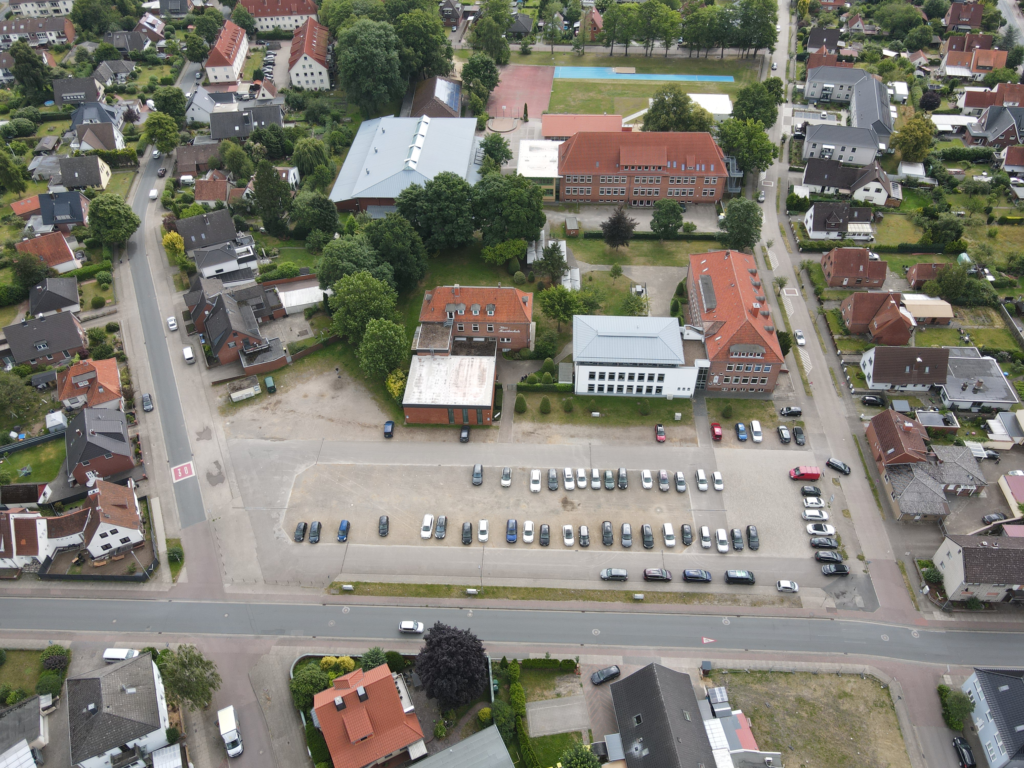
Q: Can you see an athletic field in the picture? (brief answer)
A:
Yes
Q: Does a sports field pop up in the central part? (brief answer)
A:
No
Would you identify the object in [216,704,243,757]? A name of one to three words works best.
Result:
truck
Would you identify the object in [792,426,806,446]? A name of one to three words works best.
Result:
car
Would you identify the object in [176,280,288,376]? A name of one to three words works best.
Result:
house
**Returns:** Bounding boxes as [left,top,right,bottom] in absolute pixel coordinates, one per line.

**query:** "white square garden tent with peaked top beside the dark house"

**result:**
[44,410,68,429]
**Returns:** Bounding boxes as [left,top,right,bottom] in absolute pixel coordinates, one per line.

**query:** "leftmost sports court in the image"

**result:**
[486,65,554,119]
